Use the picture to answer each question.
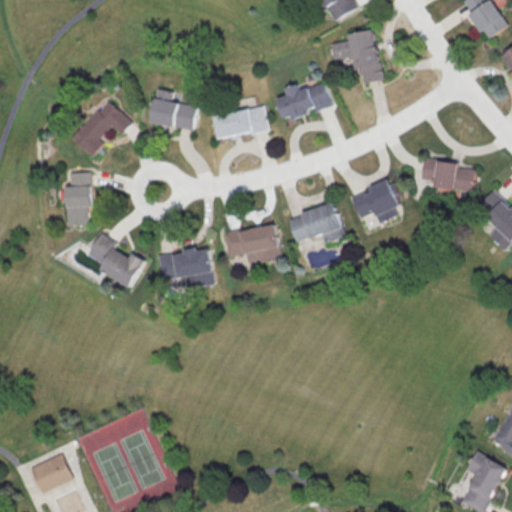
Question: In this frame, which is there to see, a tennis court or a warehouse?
tennis court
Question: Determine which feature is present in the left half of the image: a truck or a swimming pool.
swimming pool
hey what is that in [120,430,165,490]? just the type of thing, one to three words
tennis court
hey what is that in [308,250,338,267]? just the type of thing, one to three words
swimming pool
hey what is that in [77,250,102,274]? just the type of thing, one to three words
swimming pool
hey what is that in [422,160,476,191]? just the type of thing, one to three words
house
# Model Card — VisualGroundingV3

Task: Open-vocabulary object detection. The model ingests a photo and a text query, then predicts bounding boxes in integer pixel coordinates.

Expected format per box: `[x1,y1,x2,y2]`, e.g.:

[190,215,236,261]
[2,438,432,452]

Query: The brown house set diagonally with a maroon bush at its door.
[75,102,132,156]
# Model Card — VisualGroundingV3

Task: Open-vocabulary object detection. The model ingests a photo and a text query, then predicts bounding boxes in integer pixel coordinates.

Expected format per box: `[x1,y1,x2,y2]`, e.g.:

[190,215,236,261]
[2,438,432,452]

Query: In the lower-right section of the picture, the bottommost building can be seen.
[463,450,508,512]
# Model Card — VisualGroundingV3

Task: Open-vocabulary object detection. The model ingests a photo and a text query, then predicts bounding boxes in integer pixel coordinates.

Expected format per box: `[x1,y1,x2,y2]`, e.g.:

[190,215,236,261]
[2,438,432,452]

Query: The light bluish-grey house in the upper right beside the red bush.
[465,0,508,38]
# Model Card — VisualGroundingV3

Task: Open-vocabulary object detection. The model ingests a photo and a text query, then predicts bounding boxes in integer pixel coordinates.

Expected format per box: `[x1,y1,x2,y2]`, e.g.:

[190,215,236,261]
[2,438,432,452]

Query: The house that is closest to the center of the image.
[226,225,281,264]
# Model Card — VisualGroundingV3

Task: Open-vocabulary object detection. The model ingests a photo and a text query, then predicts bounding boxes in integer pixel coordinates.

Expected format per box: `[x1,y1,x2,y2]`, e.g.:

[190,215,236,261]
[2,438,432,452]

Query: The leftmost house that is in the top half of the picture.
[62,172,94,227]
